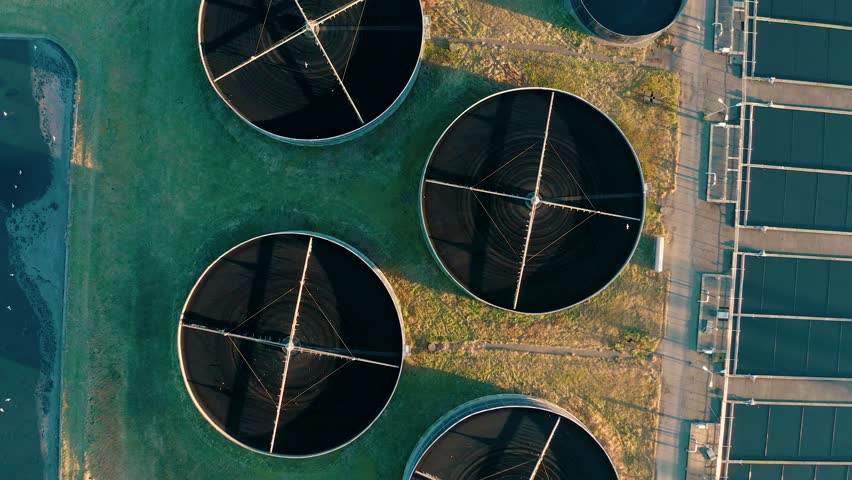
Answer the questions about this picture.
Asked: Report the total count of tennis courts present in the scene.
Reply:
zero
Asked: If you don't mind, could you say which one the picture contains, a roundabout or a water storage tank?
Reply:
water storage tank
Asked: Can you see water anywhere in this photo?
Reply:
Yes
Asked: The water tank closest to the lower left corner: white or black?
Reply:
black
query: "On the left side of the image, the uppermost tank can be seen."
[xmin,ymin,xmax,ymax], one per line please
[198,0,424,148]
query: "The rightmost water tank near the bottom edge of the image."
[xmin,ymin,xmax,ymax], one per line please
[404,393,620,480]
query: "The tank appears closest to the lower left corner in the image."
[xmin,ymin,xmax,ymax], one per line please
[179,232,407,458]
